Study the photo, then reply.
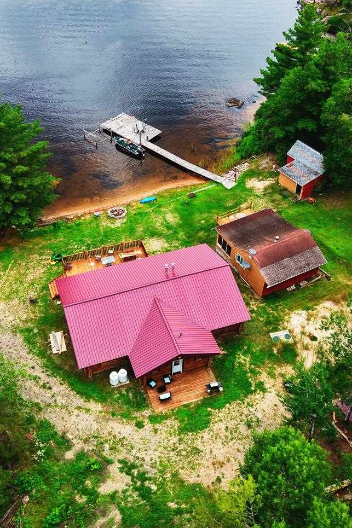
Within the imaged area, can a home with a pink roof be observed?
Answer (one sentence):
Yes, there is a home with a pink roof in the image.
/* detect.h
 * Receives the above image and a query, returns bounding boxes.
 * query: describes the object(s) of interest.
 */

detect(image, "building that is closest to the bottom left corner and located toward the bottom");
[49,239,251,413]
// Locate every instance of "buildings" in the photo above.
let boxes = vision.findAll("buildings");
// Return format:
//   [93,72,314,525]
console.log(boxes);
[49,239,251,413]
[278,145,324,197]
[212,205,326,299]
